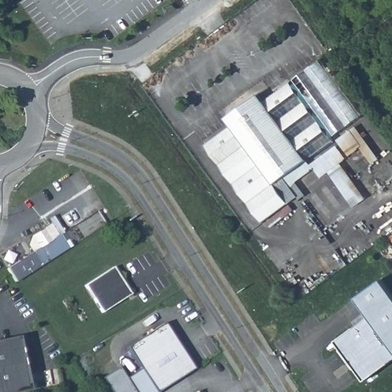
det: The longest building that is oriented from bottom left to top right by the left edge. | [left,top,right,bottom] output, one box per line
[10,214,74,282]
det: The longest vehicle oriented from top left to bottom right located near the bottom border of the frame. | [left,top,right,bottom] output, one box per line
[120,356,137,372]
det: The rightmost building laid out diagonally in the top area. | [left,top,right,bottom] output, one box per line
[350,126,378,165]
